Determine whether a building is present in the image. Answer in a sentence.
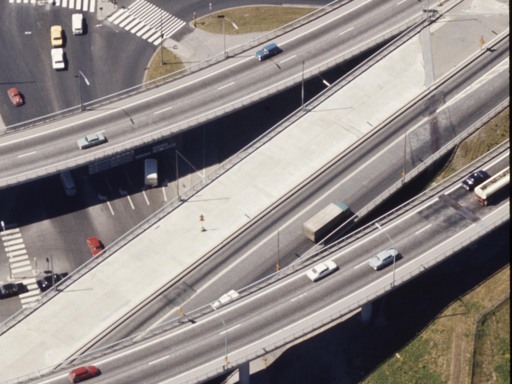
No, the scene contains no building.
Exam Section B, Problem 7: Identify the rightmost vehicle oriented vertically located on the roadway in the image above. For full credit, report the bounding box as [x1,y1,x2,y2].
[144,154,158,187]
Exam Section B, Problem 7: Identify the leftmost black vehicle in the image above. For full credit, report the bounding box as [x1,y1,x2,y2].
[0,284,28,300]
